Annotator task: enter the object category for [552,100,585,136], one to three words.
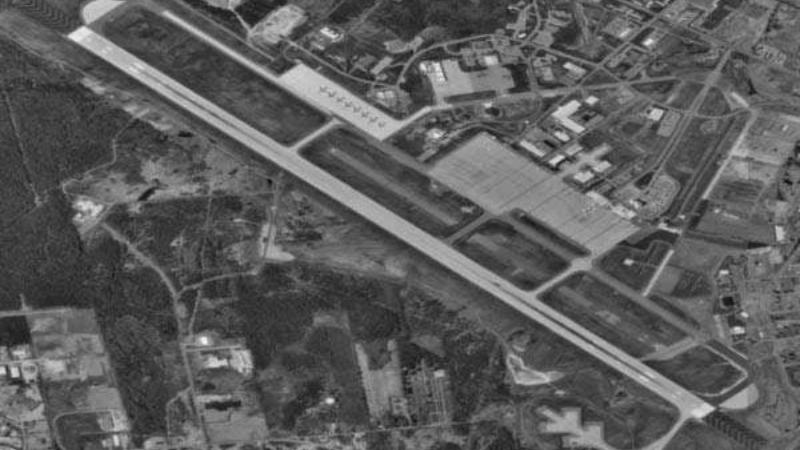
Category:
hangar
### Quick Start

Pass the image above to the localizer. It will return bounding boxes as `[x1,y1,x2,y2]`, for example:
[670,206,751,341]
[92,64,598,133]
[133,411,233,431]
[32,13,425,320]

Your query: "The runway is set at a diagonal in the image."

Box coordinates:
[69,26,716,420]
